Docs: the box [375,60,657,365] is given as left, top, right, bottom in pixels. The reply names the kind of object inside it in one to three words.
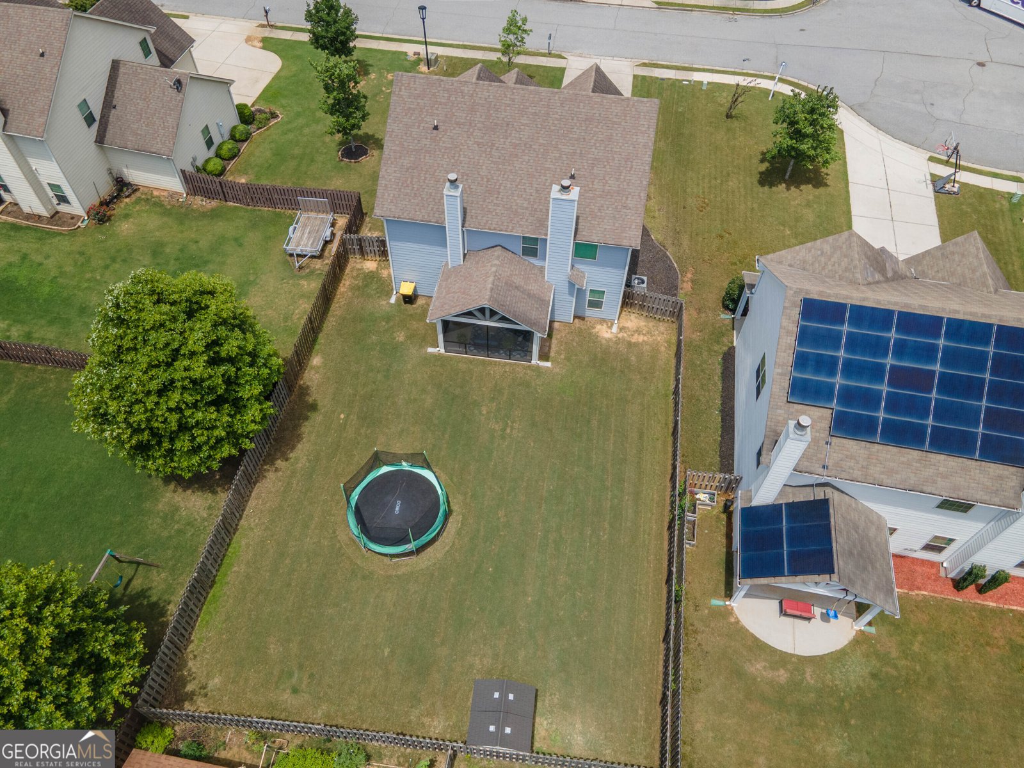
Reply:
house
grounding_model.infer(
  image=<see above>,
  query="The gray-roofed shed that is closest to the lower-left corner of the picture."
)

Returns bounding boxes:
[466,676,536,754]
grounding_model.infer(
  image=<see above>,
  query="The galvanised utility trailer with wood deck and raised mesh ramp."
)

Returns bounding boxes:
[287,199,331,269]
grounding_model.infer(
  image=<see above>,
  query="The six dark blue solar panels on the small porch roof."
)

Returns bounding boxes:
[739,493,825,579]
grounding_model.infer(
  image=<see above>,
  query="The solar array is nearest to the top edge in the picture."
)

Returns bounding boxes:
[791,296,1024,465]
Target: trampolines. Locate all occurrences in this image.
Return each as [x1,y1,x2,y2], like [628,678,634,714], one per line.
[340,448,448,560]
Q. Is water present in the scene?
No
